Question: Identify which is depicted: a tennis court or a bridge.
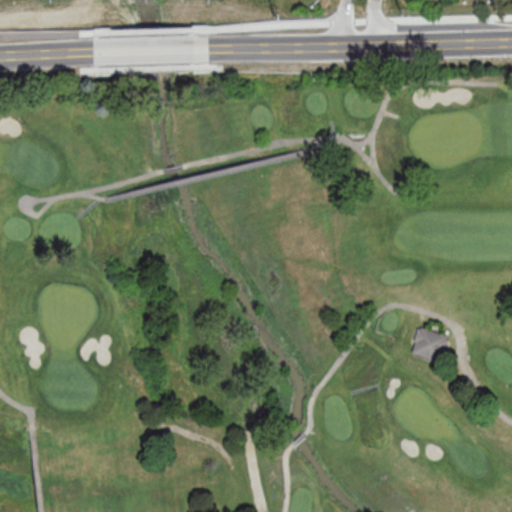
bridge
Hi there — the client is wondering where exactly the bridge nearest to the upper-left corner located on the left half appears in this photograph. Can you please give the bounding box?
[80,26,224,77]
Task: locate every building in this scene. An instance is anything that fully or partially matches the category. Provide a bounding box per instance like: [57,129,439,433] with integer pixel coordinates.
[411,326,451,360]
